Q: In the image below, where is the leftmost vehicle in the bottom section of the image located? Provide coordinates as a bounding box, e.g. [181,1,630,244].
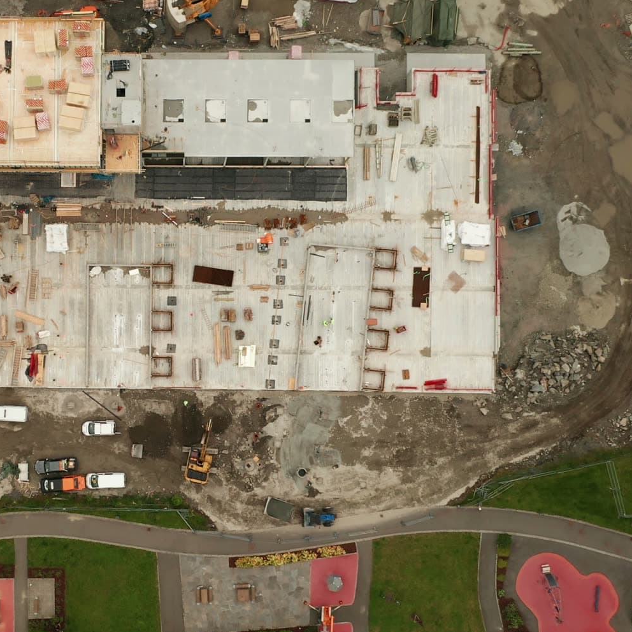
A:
[0,406,29,419]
